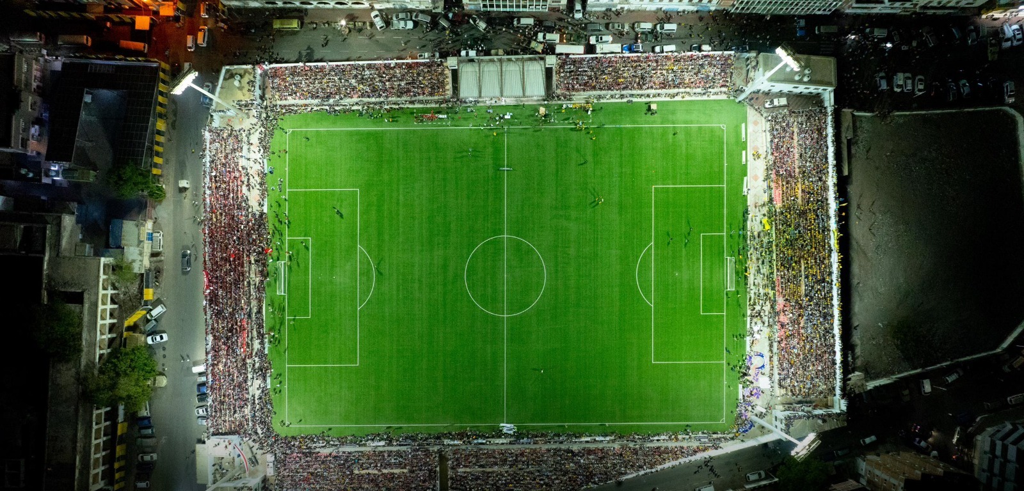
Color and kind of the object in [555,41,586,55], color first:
white vehicle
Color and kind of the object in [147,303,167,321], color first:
white car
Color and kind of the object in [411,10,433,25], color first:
gray car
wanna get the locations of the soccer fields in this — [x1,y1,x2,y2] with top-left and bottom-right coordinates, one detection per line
[267,98,748,438]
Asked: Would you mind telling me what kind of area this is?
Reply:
sports ground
